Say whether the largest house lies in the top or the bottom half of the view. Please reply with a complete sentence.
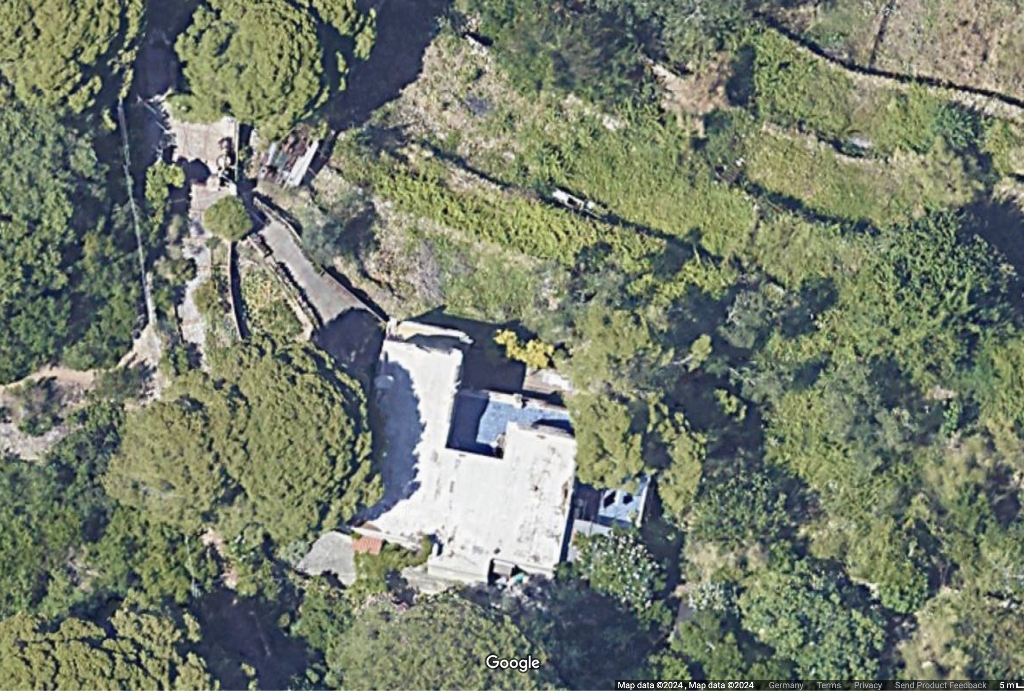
It is in the bottom half that the largest house appears.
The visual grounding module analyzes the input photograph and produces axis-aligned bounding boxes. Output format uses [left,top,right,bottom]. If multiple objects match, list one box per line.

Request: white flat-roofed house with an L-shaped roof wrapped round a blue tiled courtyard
[358,339,576,583]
